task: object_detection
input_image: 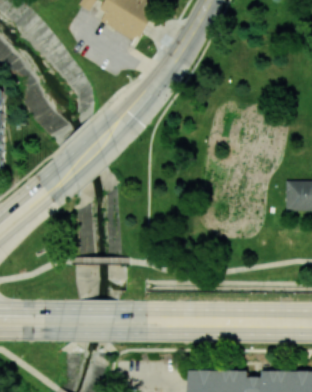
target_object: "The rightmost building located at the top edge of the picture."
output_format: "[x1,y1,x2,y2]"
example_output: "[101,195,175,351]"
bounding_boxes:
[102,0,154,40]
